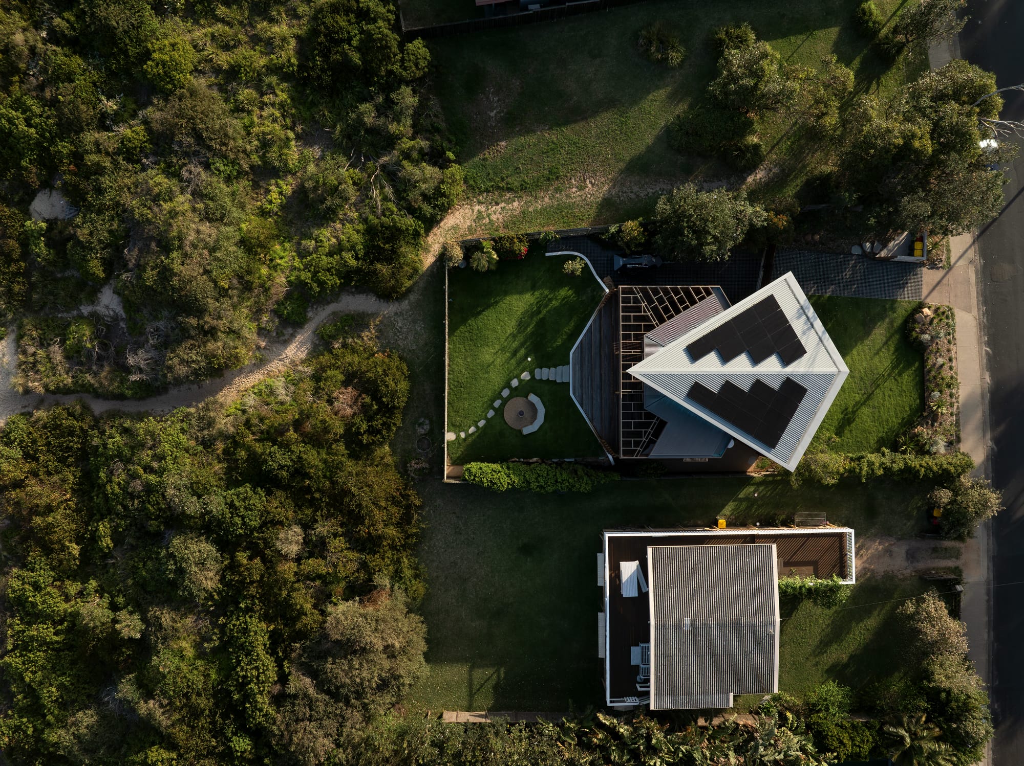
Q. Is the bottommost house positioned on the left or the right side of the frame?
right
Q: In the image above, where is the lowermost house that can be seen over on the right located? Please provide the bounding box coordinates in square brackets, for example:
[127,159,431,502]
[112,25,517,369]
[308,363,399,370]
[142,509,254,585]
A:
[597,523,855,711]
